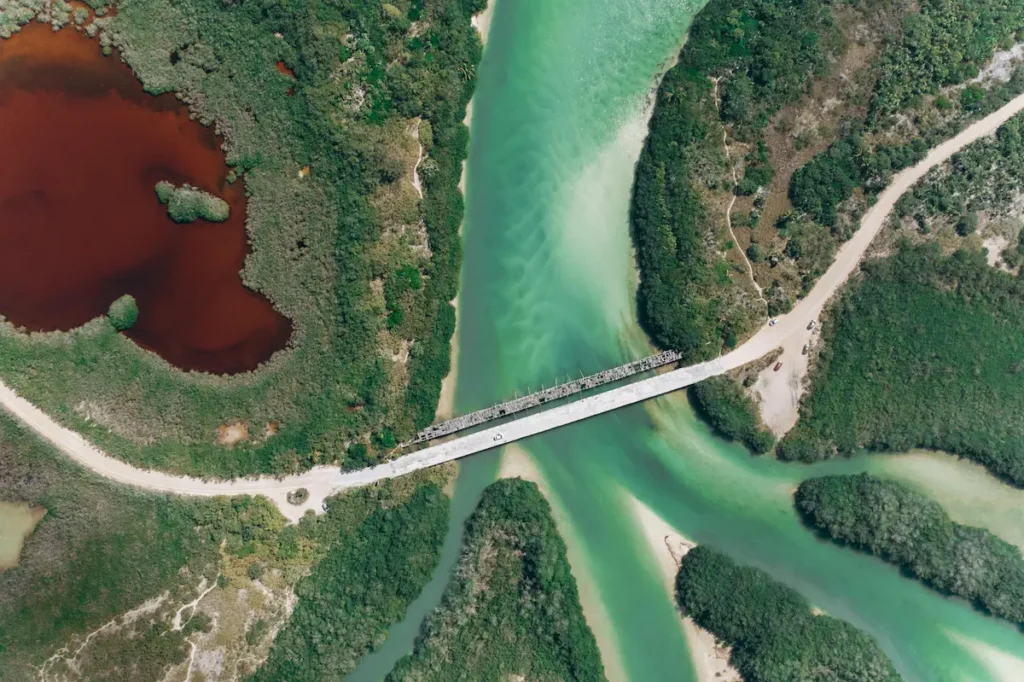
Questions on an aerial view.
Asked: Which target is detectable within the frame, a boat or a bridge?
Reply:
bridge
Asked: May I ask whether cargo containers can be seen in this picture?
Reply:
No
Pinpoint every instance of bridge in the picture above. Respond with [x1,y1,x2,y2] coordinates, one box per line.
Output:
[380,361,713,482]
